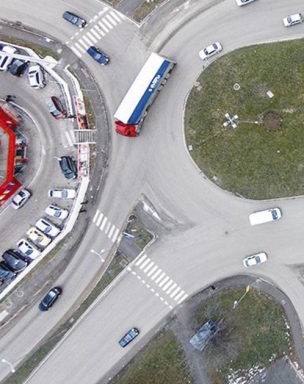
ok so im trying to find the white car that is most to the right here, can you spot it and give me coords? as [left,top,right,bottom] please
[282,14,304,27]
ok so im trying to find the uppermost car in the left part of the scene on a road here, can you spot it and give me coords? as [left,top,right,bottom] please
[62,10,88,28]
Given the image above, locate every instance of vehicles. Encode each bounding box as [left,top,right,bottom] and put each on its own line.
[62,10,88,28]
[243,251,268,267]
[49,95,68,120]
[189,320,217,351]
[236,0,258,6]
[28,227,51,246]
[199,41,223,58]
[251,207,281,224]
[36,218,60,237]
[2,250,29,271]
[29,64,46,88]
[59,154,78,180]
[11,55,29,80]
[119,327,140,346]
[45,204,70,220]
[41,286,62,310]
[10,188,33,210]
[88,46,110,64]
[113,52,173,134]
[282,14,304,27]
[50,188,75,200]
[17,238,41,257]
[0,262,17,282]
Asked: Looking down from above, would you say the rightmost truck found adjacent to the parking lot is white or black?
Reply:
white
